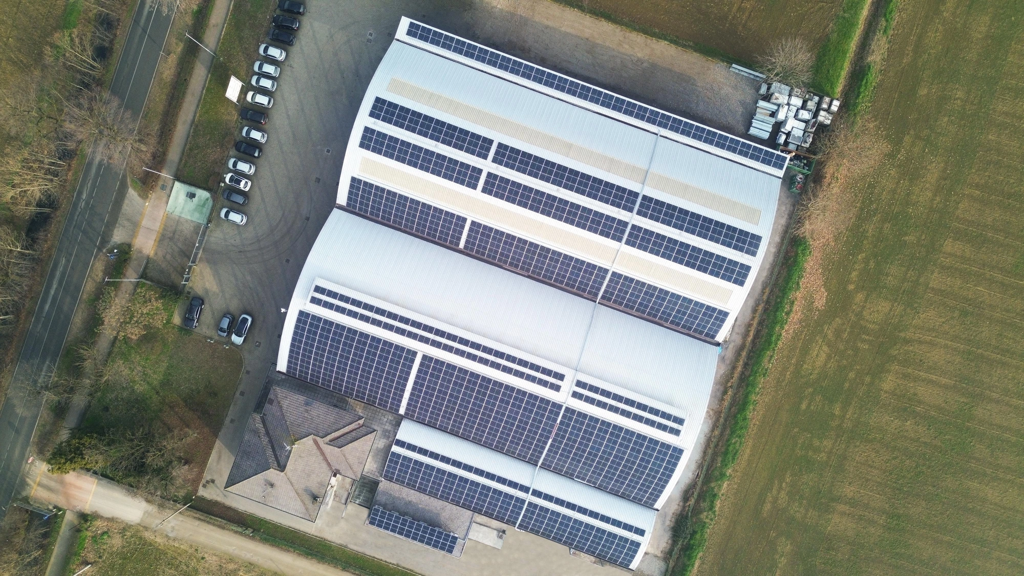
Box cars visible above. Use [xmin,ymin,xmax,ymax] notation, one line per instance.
[235,141,263,158]
[225,174,253,192]
[228,158,257,176]
[258,43,287,62]
[250,74,278,93]
[217,313,235,338]
[239,106,270,126]
[246,90,275,109]
[232,313,254,345]
[184,297,205,329]
[252,60,281,79]
[272,13,301,33]
[267,28,297,47]
[242,127,269,144]
[277,0,307,17]
[220,208,249,225]
[221,189,249,206]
